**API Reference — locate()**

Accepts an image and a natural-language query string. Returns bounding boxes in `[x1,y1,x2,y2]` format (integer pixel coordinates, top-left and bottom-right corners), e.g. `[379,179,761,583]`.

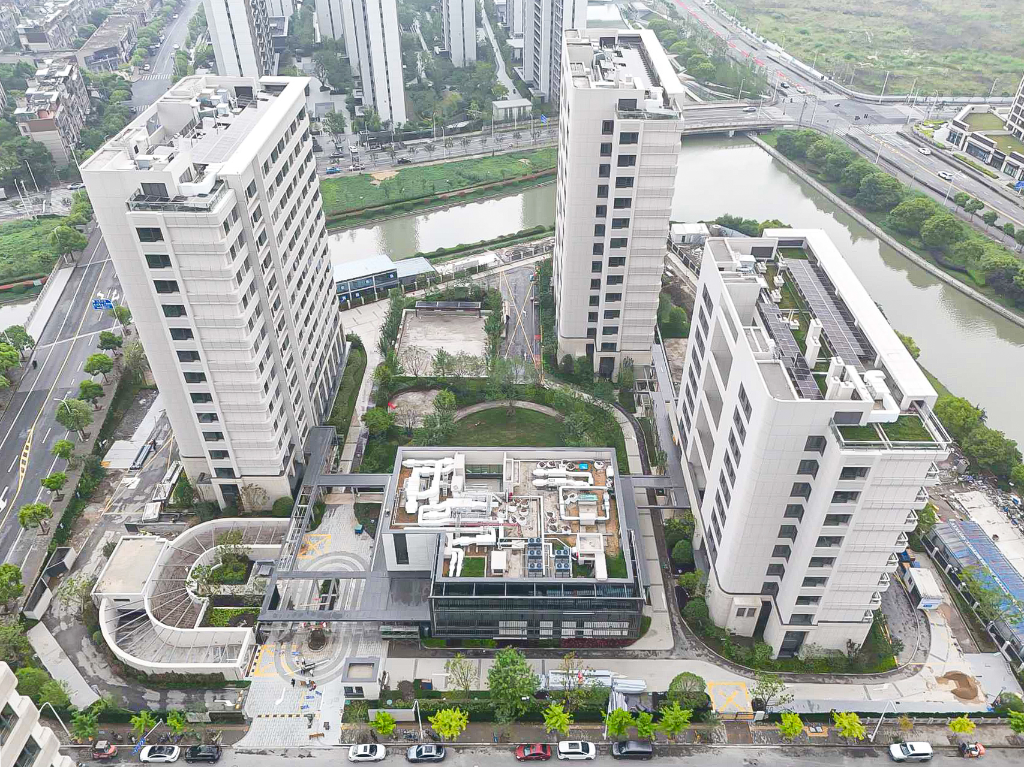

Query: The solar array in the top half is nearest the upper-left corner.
[190,99,273,162]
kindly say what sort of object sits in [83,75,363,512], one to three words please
building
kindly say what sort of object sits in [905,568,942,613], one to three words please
building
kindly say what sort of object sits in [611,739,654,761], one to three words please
car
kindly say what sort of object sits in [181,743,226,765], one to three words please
car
